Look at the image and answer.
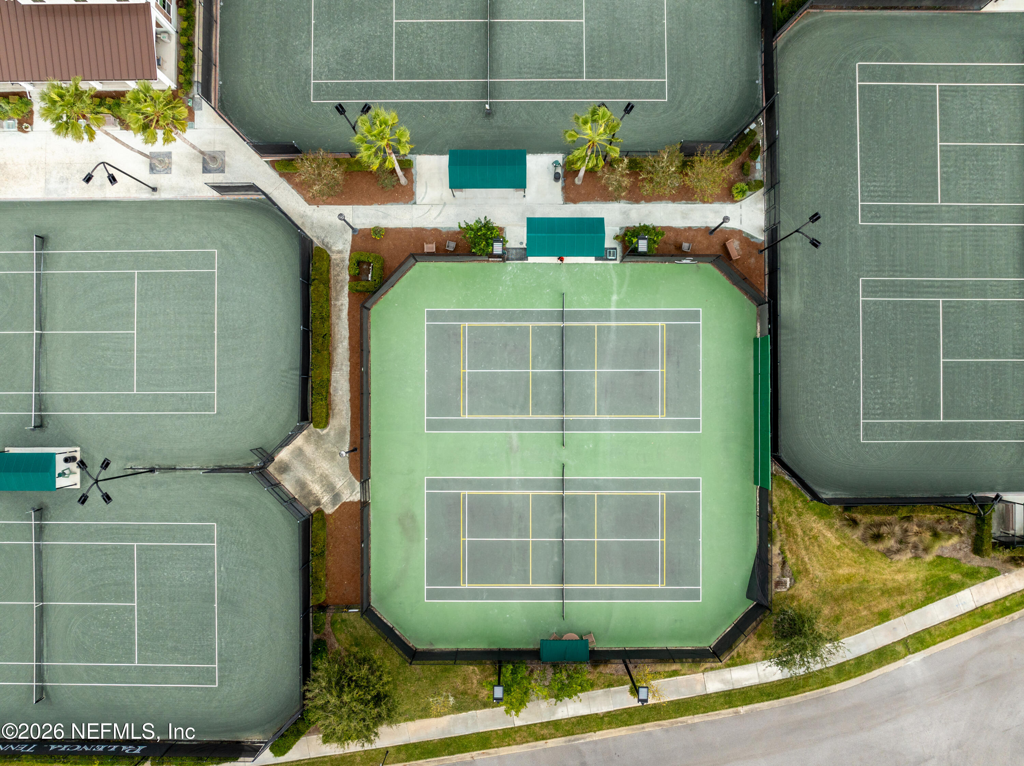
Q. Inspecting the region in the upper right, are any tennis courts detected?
Yes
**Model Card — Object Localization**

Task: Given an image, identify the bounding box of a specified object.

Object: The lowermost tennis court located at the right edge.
[773,251,1024,499]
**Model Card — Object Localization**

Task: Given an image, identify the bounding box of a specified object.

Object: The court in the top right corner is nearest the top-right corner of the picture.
[766,12,1024,251]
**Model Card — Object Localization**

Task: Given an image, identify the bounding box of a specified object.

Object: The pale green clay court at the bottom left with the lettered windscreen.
[0,468,310,739]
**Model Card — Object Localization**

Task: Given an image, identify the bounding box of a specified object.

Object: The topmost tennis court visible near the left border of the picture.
[0,195,307,468]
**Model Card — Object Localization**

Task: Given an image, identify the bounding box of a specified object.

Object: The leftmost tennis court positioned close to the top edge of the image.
[219,0,763,156]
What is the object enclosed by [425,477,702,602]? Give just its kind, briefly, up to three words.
sports court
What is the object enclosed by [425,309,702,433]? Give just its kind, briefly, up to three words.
sports court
